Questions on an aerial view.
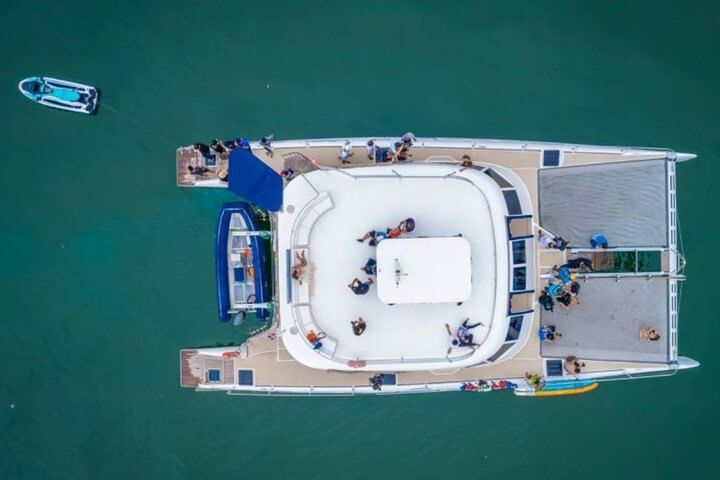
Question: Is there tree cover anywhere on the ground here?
No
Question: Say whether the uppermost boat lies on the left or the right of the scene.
left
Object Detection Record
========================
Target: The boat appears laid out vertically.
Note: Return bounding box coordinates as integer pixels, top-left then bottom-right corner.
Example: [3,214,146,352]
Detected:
[214,202,269,324]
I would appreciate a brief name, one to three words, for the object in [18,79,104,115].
boat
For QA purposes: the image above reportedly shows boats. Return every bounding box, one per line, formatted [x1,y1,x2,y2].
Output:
[176,136,699,397]
[214,202,269,324]
[18,79,104,115]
